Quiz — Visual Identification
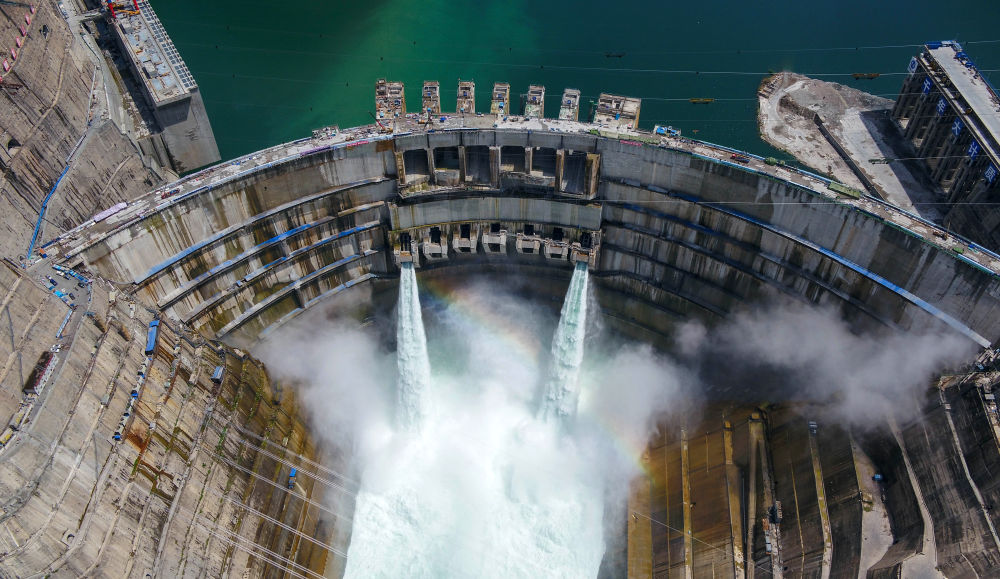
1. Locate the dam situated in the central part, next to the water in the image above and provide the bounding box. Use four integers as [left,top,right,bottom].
[27,80,1000,406]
